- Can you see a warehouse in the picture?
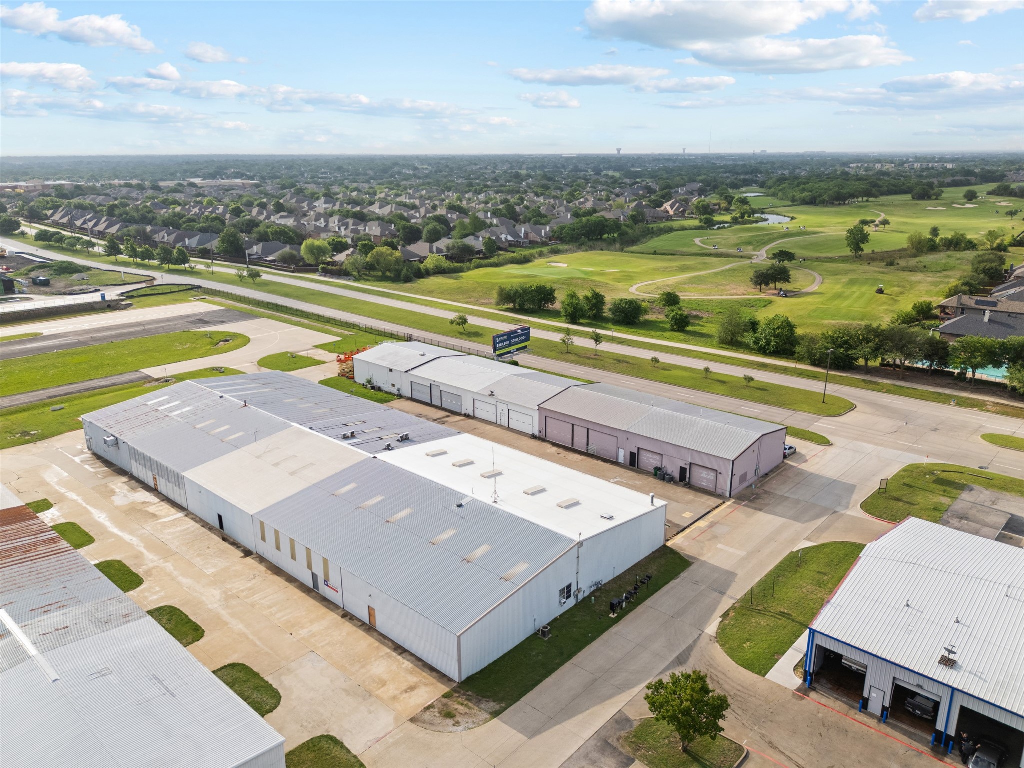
Yes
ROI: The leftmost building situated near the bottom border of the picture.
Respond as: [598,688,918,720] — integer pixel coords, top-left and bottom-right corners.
[0,488,288,768]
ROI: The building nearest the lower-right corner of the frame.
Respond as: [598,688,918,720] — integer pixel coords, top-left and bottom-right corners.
[800,512,1024,768]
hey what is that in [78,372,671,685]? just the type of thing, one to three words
warehouse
